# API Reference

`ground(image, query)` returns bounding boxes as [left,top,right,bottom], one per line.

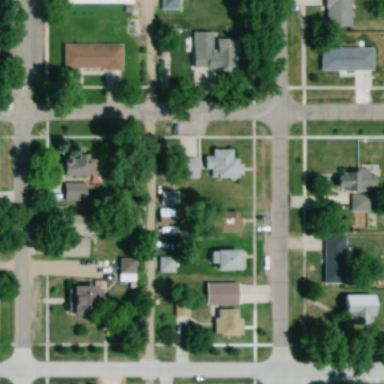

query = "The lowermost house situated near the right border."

[347,294,380,324]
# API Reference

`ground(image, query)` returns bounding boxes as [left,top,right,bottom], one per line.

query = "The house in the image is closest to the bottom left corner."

[77,285,106,316]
